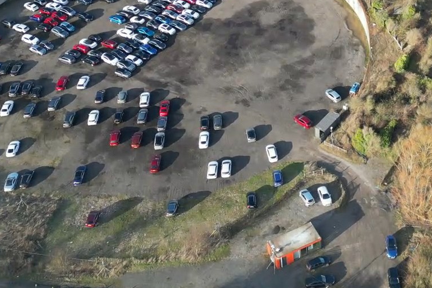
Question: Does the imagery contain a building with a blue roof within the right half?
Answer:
No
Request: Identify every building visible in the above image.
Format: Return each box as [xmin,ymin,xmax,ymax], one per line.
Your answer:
[315,111,340,143]
[266,221,321,268]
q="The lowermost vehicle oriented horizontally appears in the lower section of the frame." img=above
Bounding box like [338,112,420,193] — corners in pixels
[302,272,337,288]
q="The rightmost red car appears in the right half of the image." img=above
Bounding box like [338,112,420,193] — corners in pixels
[291,113,314,130]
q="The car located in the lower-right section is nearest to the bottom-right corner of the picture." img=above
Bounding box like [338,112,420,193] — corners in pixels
[385,265,403,288]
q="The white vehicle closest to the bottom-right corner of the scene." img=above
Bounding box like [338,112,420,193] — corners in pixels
[316,183,334,209]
